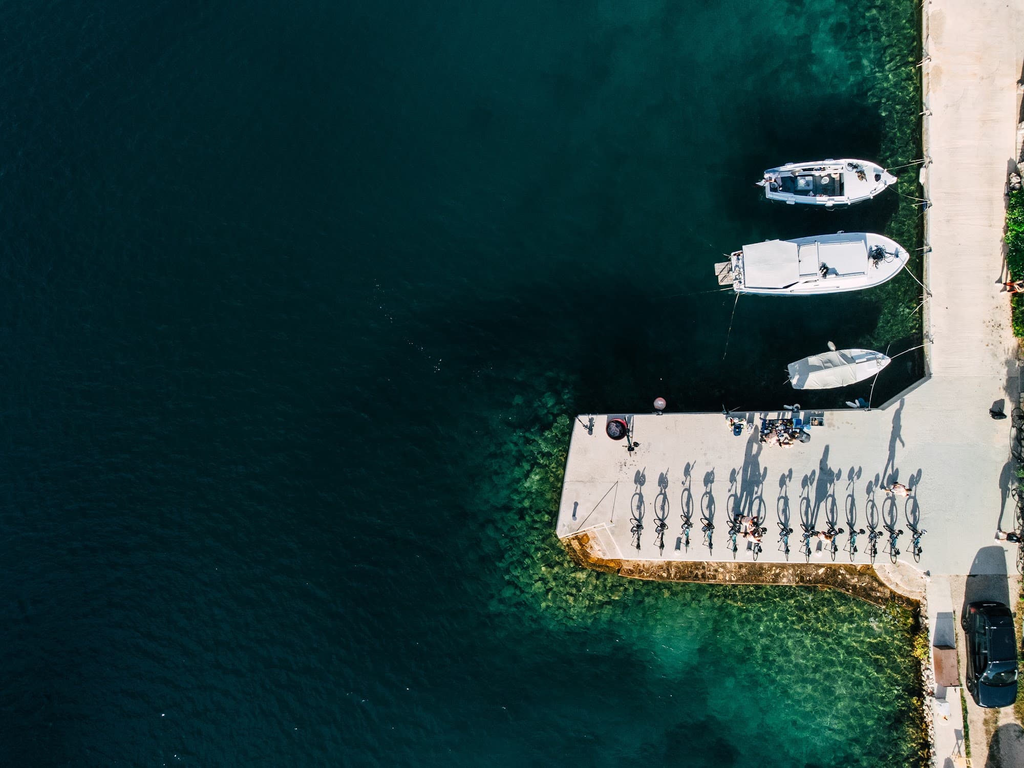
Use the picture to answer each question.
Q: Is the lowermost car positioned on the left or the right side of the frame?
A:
right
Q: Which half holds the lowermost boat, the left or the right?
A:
right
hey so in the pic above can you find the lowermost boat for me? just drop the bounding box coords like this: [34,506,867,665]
[783,336,893,391]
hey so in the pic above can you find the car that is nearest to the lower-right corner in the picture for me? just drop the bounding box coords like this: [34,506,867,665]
[959,599,1022,708]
